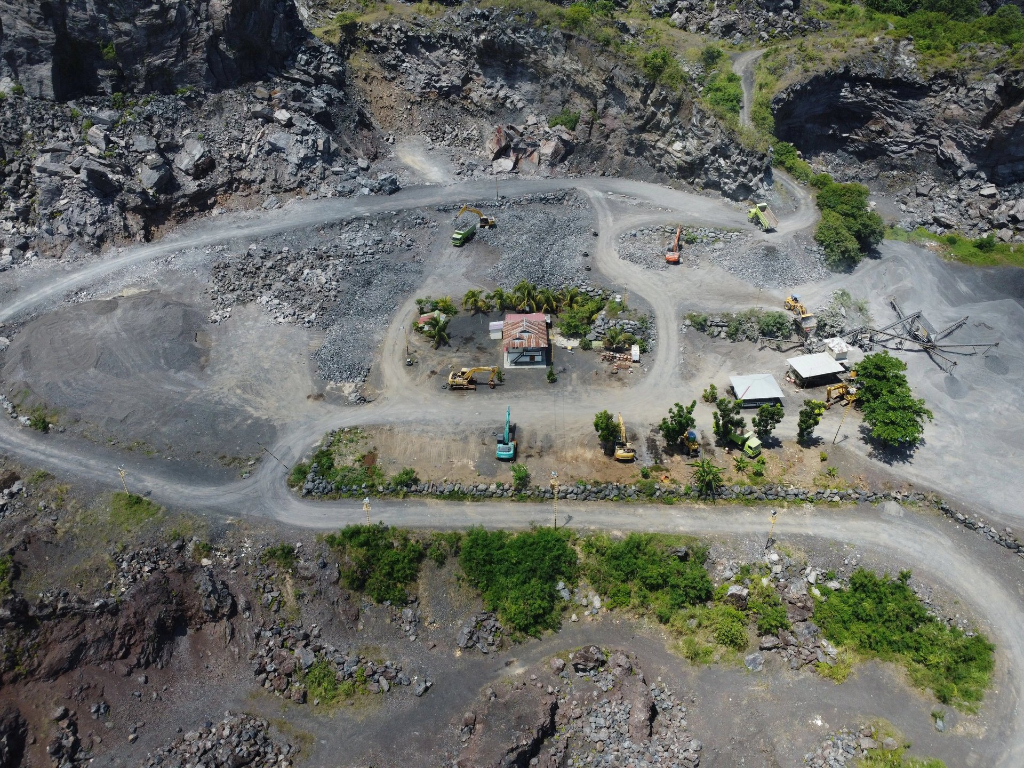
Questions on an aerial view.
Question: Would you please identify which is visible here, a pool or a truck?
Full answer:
Visible in the photo is a truck.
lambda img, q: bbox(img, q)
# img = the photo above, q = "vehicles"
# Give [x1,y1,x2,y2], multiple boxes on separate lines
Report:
[613,428,639,464]
[666,216,681,262]
[820,379,865,406]
[683,428,708,460]
[455,201,497,227]
[452,217,479,247]
[719,428,769,461]
[777,294,817,318]
[447,363,498,393]
[496,399,516,461]
[744,201,782,234]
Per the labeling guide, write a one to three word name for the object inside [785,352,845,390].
shed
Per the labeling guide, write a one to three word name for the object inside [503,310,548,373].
house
